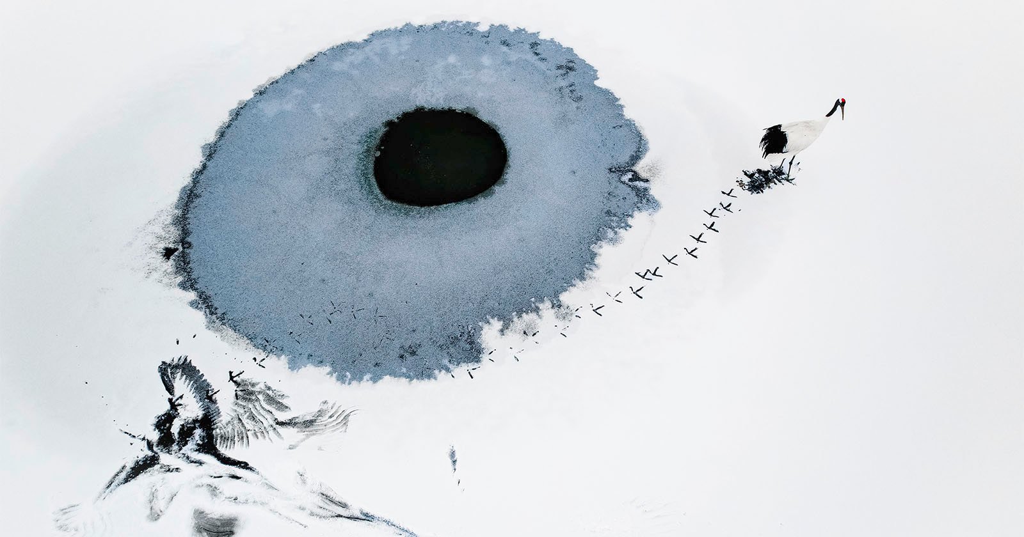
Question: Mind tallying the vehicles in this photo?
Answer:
none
